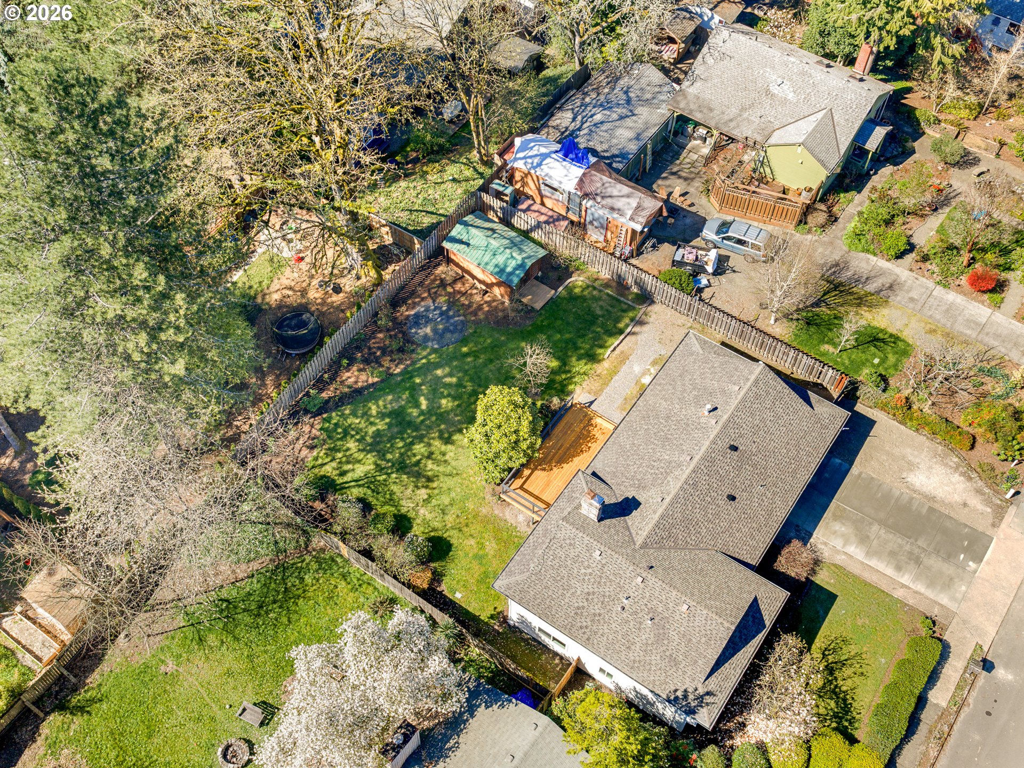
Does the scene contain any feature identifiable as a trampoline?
Yes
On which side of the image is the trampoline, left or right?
left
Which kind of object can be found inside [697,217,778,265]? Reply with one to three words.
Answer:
car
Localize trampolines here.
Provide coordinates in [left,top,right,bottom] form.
[261,297,327,362]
